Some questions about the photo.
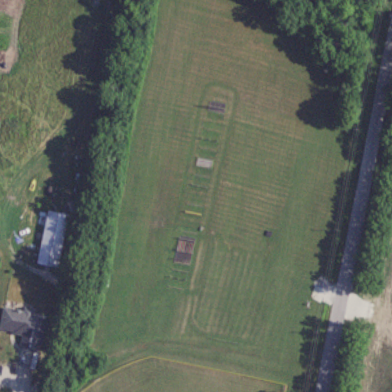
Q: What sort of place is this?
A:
sports ground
